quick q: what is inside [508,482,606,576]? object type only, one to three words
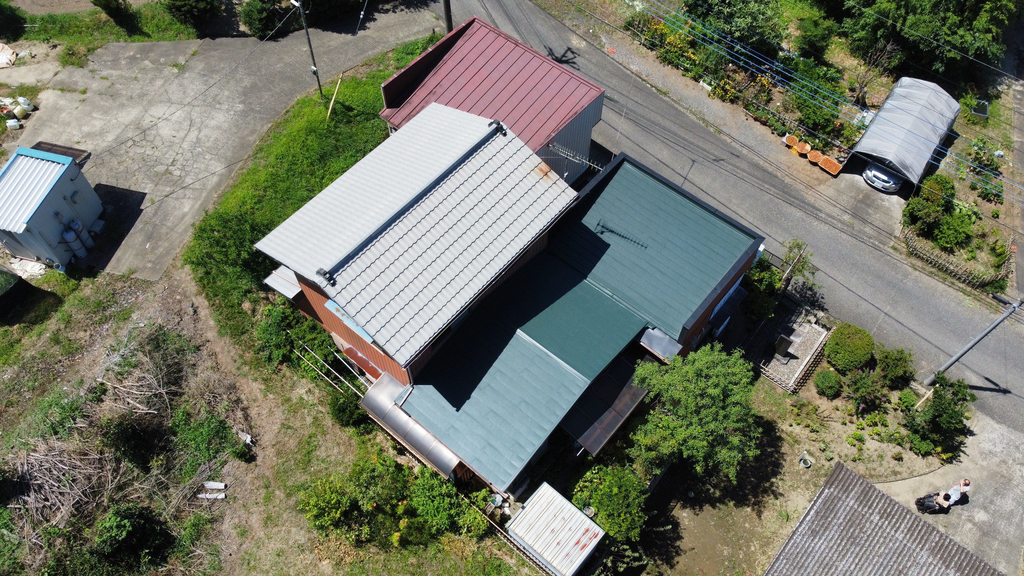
shed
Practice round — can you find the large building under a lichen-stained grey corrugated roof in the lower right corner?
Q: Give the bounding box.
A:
[760,458,1010,576]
